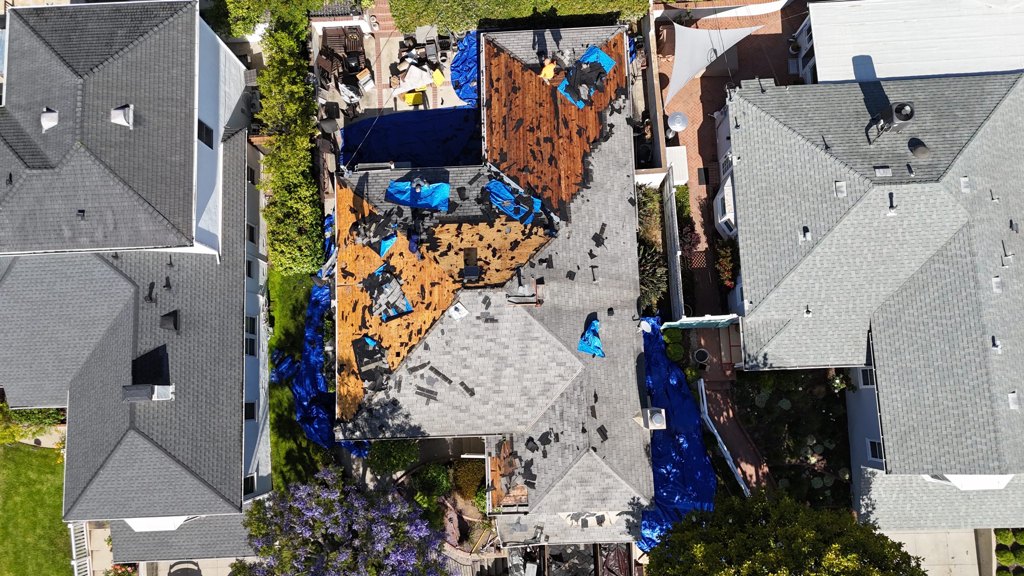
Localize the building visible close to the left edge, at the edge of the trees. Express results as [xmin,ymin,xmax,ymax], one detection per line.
[0,0,268,564]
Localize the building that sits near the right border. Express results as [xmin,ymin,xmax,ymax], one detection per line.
[707,0,1024,529]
